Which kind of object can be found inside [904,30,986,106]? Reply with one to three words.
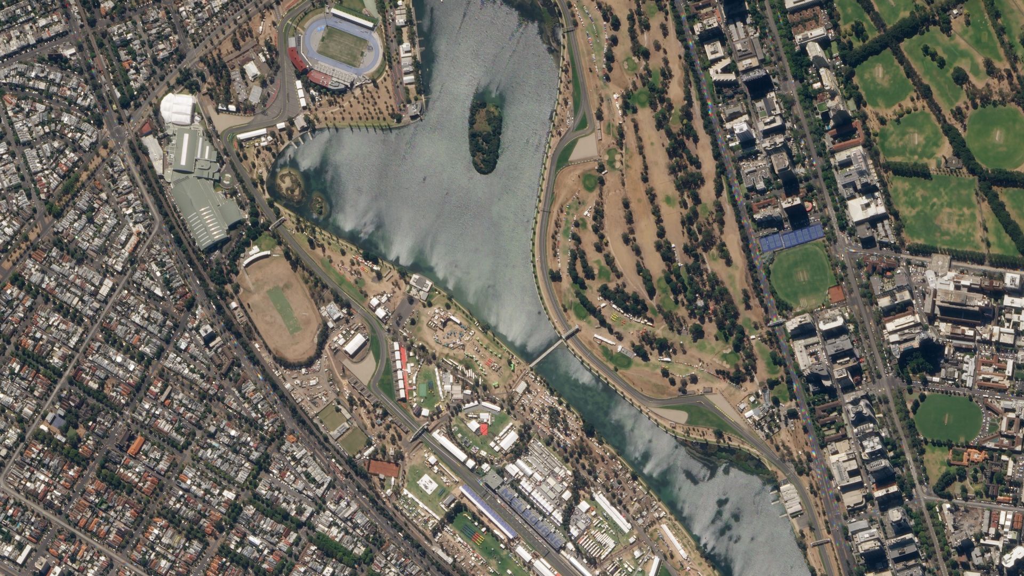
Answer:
sports field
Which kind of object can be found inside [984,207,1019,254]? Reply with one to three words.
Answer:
sports field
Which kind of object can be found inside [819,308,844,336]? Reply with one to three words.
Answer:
building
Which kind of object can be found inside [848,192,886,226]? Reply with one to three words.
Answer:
building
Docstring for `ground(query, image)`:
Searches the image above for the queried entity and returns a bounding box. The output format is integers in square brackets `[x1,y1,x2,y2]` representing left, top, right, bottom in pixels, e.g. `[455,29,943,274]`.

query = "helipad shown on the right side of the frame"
[931,254,950,275]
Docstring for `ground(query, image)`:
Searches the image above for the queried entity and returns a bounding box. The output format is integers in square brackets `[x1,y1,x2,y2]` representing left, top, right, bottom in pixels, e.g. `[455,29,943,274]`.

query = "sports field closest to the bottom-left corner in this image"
[238,255,322,362]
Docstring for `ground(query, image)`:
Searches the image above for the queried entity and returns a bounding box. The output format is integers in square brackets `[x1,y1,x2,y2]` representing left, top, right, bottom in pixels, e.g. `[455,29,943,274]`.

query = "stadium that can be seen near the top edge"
[288,0,387,91]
